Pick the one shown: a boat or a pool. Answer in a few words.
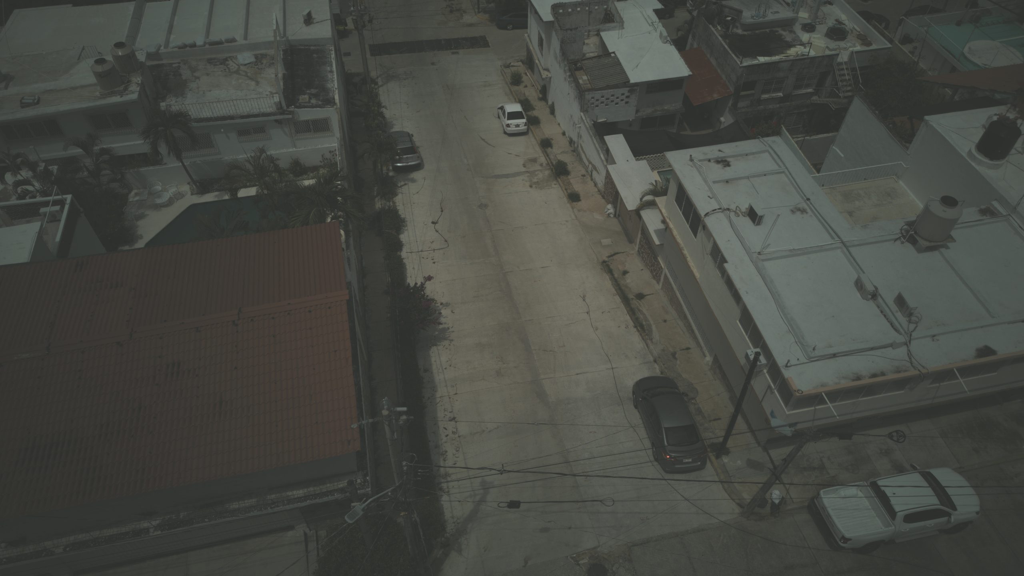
pool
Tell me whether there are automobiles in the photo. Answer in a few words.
Yes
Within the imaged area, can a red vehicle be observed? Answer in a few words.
No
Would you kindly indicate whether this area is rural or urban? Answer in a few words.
urban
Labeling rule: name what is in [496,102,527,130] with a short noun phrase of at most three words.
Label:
car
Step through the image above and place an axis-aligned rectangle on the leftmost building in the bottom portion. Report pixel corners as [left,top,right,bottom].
[0,220,359,546]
